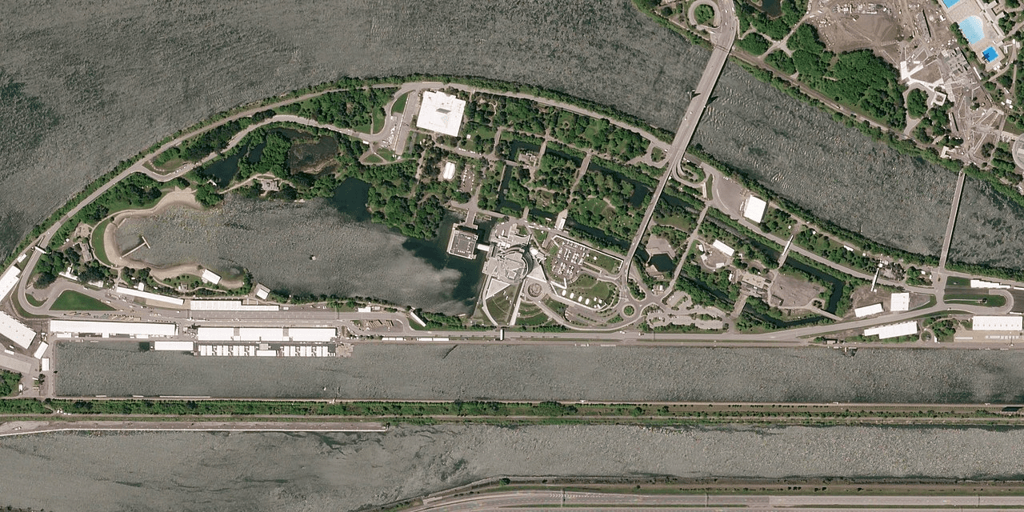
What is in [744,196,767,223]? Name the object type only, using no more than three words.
building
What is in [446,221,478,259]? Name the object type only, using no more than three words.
building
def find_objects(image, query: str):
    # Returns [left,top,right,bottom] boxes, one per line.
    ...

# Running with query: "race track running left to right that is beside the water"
[18,222,1016,340]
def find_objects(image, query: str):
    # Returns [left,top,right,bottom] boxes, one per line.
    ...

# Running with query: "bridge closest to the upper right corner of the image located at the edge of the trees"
[940,171,965,267]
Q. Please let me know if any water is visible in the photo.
Yes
